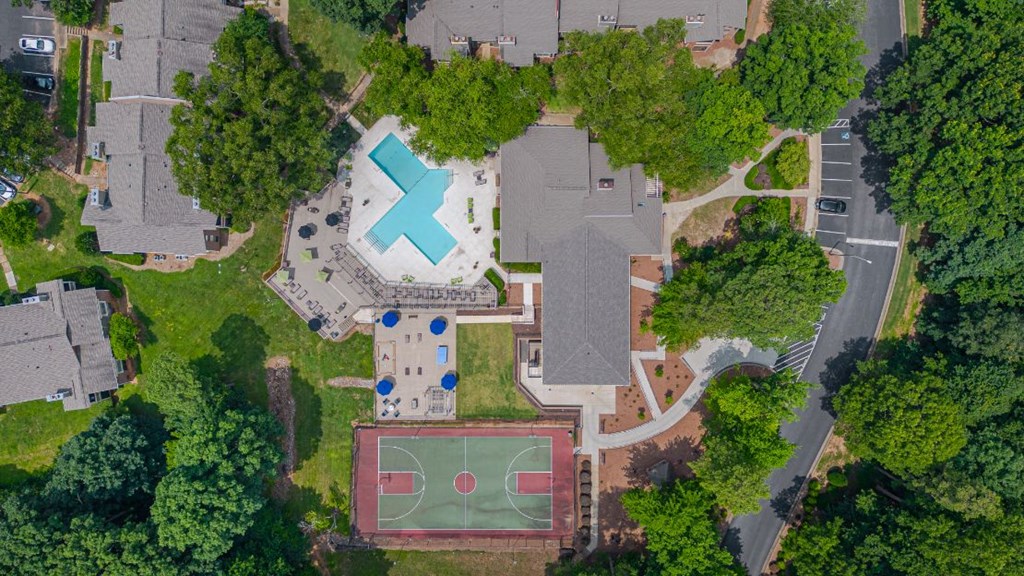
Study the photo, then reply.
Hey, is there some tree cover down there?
Yes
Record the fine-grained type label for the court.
basketball court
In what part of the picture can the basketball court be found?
bottom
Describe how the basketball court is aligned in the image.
from side to side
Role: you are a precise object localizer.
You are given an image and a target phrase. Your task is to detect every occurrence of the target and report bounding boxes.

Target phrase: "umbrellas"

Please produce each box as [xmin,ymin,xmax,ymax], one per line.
[300,250,312,262]
[299,225,312,239]
[326,212,340,226]
[278,270,290,281]
[430,318,446,334]
[441,373,458,390]
[308,318,322,331]
[315,269,328,282]
[381,310,399,327]
[377,379,394,395]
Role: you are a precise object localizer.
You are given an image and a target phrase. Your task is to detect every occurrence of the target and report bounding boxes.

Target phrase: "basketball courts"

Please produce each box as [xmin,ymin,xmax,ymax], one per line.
[357,426,575,538]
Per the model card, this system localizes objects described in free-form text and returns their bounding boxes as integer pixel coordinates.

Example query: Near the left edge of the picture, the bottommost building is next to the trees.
[0,279,132,411]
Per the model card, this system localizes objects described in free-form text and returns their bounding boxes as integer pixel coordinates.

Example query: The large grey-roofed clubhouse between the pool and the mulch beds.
[501,126,663,386]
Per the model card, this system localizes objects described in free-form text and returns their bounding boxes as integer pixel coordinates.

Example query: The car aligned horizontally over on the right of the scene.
[814,197,846,212]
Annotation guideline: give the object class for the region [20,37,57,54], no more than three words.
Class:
car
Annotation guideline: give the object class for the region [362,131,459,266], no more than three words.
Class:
swimming pool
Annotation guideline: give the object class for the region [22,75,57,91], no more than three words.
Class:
car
